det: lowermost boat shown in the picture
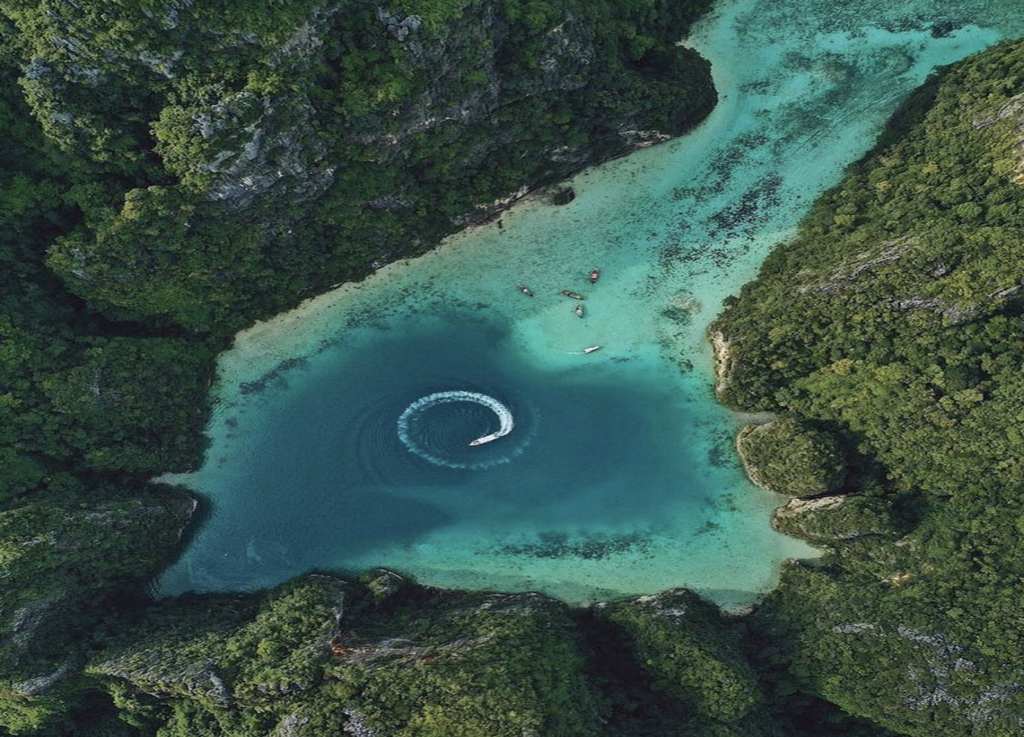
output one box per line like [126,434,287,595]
[469,432,500,445]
